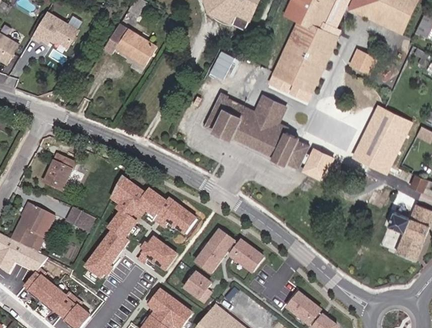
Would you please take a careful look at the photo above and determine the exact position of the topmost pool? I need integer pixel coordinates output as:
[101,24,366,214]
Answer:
[16,0,36,14]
